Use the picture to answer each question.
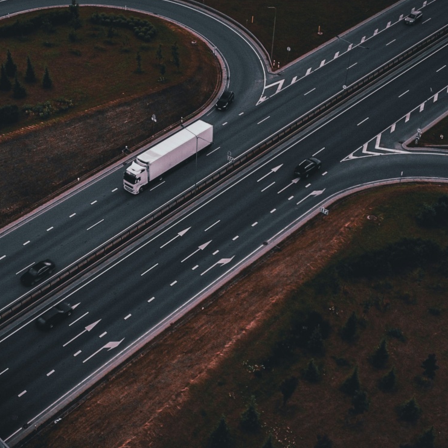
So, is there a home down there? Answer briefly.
No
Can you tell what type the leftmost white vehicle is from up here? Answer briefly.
truck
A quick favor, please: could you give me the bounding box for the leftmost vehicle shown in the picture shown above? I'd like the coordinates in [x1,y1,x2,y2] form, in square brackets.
[15,255,53,282]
